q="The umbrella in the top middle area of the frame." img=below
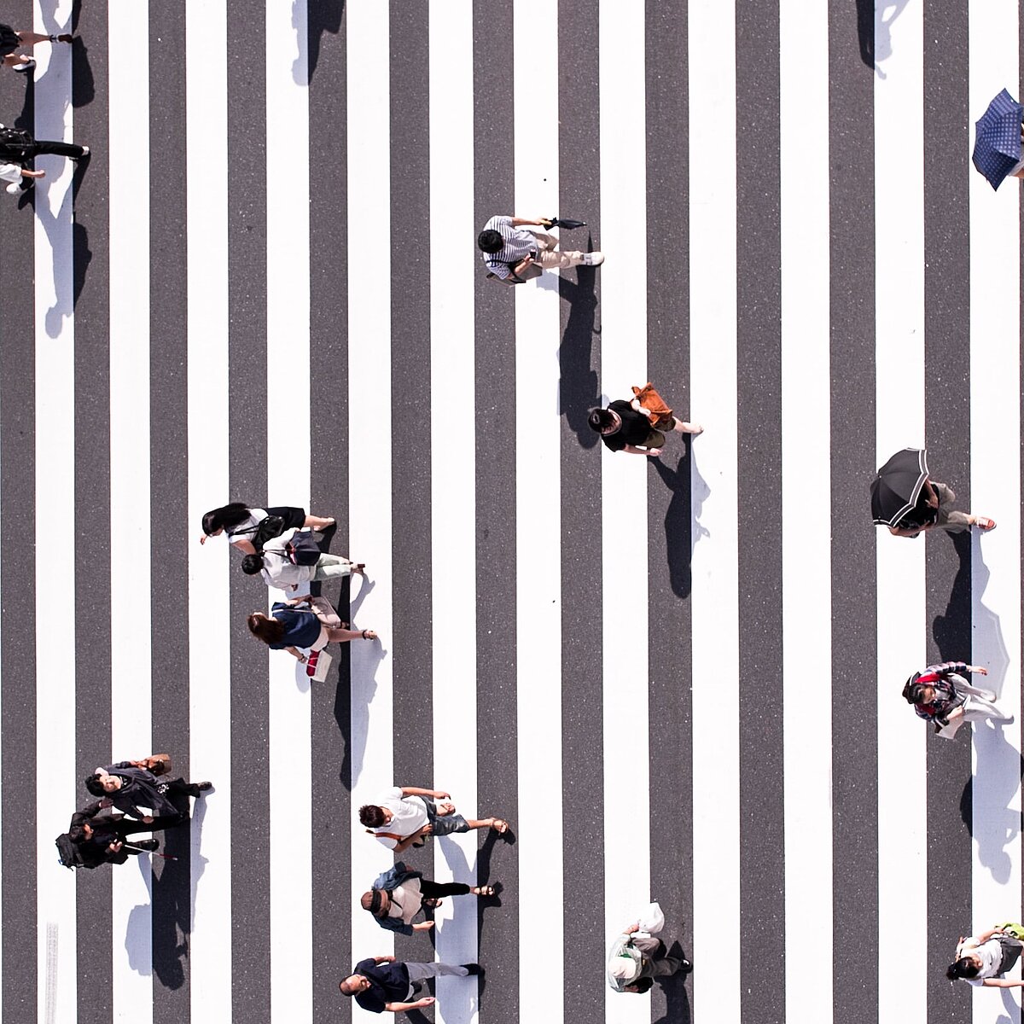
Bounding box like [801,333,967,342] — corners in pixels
[535,217,588,231]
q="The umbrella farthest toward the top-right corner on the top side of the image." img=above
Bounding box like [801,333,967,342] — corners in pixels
[972,87,1024,200]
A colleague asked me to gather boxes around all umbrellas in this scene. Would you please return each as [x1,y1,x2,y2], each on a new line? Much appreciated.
[972,87,1024,200]
[535,217,588,231]
[870,446,958,526]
